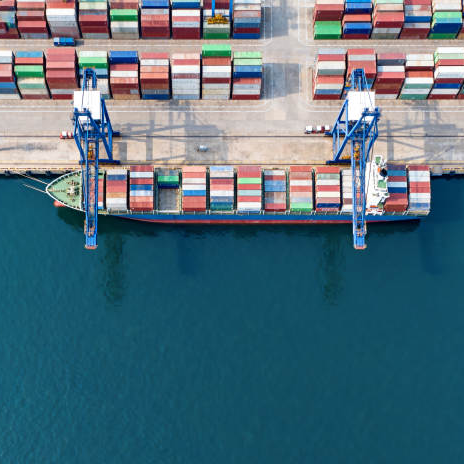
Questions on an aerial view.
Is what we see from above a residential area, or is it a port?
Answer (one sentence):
The area seen from above is a port.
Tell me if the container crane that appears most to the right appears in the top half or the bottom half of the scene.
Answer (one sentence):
Seen from above, the container crane that appears most to the right lies in the top half of the view.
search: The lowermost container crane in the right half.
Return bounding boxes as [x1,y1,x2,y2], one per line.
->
[328,66,382,252]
